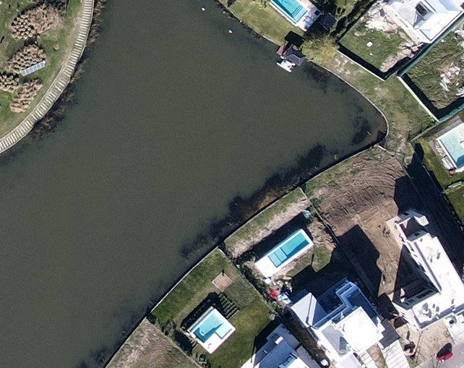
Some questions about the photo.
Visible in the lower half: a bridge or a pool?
pool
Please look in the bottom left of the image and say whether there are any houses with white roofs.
No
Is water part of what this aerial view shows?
Yes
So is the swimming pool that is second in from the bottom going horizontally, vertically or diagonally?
diagonally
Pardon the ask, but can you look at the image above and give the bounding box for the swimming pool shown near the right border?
[428,116,464,173]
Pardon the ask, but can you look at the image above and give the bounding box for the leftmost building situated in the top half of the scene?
[277,45,307,67]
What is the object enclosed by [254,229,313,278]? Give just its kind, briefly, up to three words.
swimming pool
